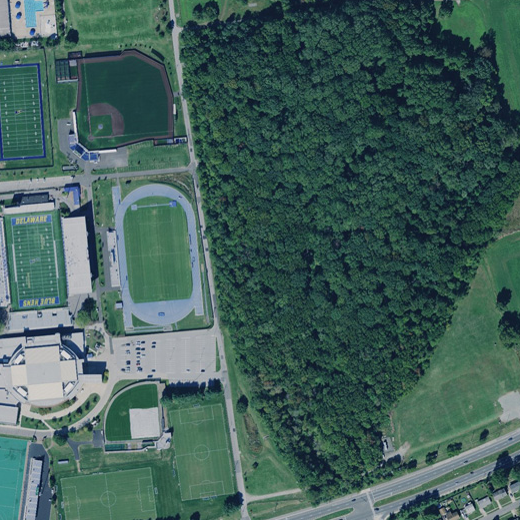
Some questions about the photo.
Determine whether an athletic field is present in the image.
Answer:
Yes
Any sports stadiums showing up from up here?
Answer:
Yes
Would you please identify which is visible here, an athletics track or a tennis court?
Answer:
athletics track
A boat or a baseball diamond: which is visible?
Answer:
baseball diamond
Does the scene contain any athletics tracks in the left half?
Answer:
Yes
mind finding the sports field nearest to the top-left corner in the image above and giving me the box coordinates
[0,63,46,159]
